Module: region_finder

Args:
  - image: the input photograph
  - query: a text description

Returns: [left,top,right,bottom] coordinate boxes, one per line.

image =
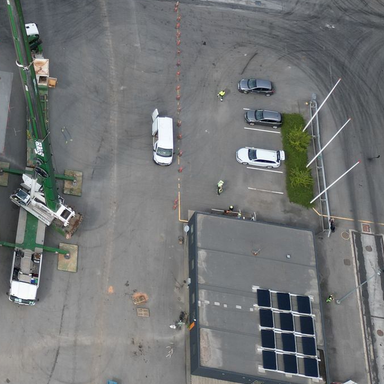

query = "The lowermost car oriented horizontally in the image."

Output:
[235,142,288,164]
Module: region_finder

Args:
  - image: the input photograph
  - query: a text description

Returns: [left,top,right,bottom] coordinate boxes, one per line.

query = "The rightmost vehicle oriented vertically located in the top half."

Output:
[151,107,174,168]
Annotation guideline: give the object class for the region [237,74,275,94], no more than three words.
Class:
car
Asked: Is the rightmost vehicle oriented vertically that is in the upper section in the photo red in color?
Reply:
No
